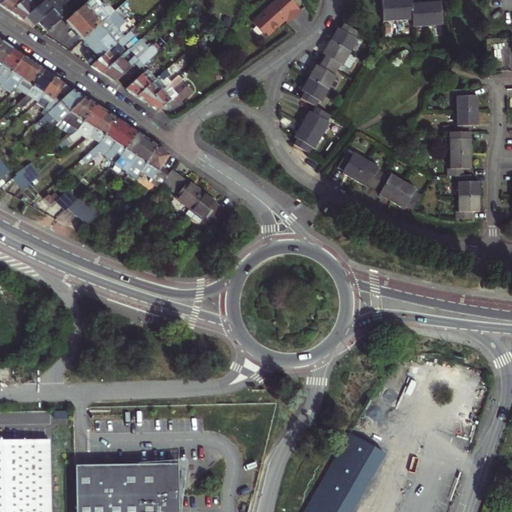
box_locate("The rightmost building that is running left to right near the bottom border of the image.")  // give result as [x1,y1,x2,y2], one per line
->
[76,458,188,512]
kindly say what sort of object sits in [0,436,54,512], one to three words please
building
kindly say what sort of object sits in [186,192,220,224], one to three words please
house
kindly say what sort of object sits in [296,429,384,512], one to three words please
shed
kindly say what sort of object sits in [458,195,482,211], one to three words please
house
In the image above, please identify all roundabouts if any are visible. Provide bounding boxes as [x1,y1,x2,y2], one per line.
[220,234,360,373]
